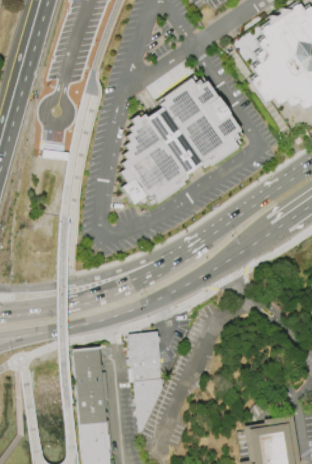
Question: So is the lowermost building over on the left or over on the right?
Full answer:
The lowermost building is on the right side of the image.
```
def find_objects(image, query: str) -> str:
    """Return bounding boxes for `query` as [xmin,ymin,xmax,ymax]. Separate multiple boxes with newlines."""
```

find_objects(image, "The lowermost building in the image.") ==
[237,417,299,464]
